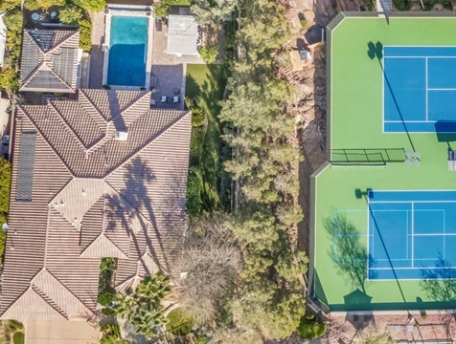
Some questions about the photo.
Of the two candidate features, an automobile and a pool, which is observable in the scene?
pool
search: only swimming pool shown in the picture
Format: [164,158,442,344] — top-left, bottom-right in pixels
[102,1,153,91]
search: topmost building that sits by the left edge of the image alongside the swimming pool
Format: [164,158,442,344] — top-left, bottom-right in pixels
[18,28,86,93]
